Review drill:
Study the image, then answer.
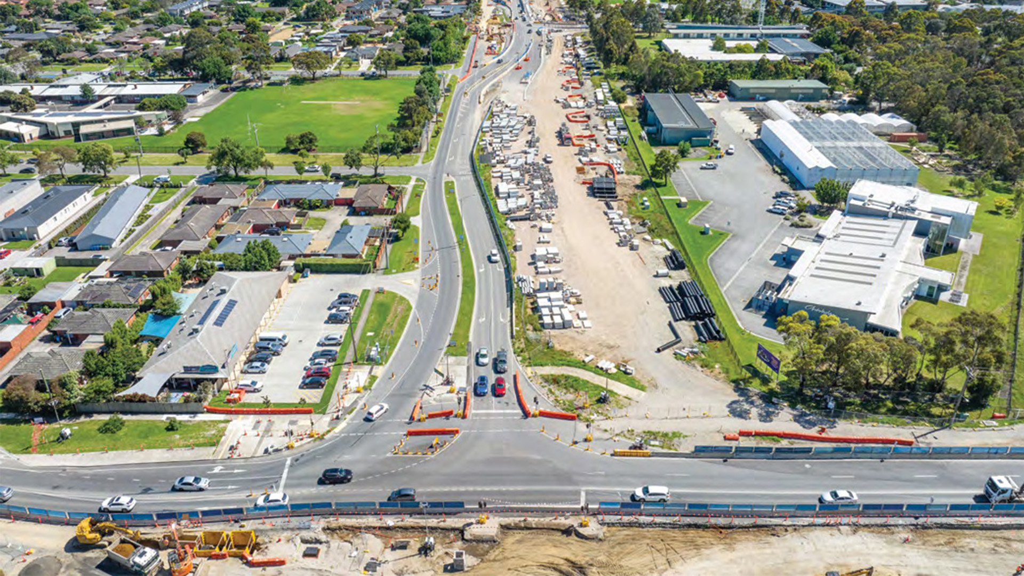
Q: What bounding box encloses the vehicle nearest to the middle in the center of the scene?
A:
[488,247,500,263]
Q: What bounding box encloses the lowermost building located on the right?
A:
[776,179,977,351]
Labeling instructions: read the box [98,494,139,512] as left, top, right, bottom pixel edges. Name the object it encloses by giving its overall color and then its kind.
white car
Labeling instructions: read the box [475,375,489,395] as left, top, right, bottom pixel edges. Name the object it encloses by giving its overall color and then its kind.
blue car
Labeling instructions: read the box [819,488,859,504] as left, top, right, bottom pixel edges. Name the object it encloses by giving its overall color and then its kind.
white car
